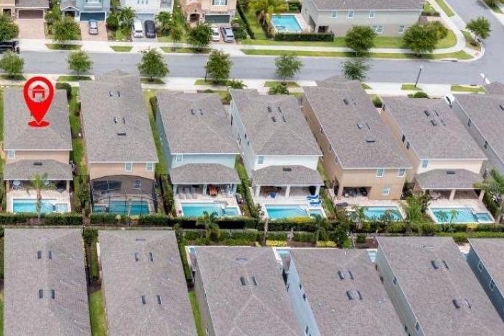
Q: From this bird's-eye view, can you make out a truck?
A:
No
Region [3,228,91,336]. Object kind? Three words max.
house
